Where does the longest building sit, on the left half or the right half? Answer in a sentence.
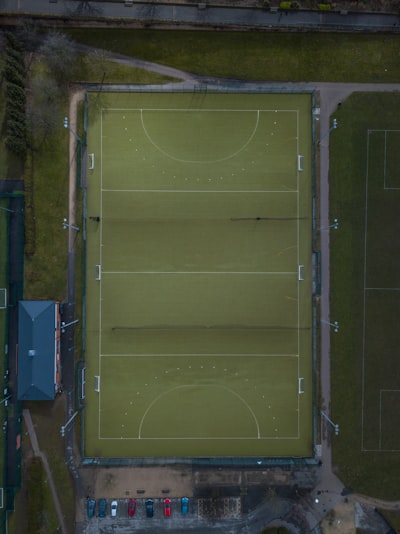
It is on the left.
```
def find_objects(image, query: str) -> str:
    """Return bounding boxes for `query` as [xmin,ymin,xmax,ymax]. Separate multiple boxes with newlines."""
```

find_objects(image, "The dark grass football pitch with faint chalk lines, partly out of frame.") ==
[330,97,400,494]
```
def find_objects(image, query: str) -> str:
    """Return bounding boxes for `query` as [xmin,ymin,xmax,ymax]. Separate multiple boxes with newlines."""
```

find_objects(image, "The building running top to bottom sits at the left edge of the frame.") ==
[16,300,61,401]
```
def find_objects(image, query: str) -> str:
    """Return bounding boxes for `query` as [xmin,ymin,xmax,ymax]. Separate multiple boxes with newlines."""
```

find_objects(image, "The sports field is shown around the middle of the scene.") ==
[85,92,313,458]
